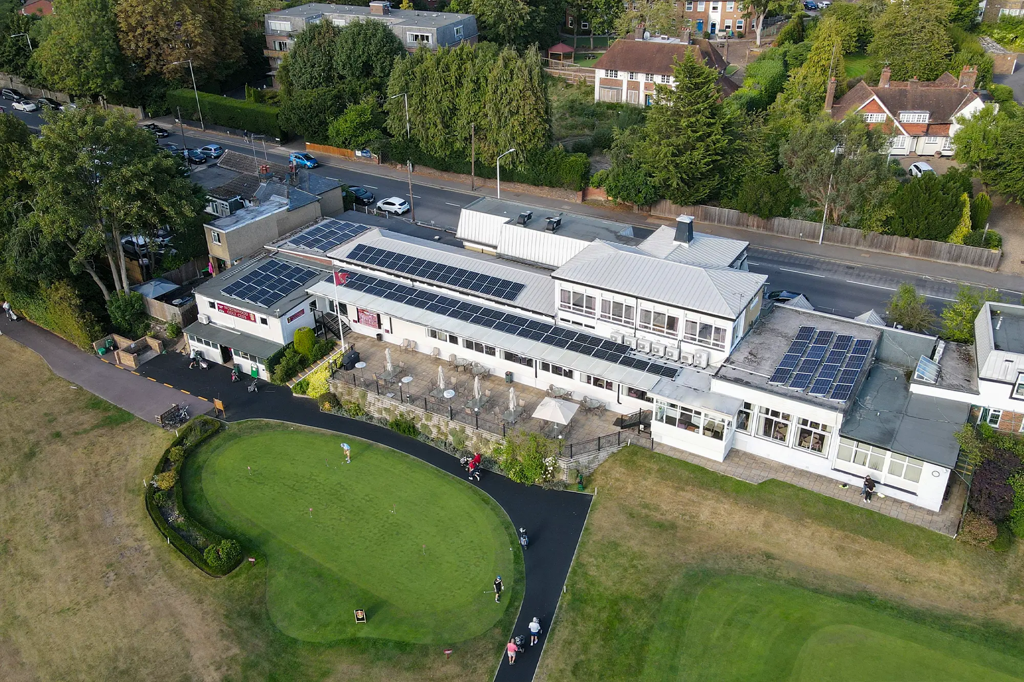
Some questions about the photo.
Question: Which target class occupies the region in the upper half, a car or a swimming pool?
car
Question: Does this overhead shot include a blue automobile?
Yes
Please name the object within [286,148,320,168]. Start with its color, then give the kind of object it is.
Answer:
blue car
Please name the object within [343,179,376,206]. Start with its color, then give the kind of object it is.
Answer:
black car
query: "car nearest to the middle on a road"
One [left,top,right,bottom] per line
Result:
[373,193,411,214]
